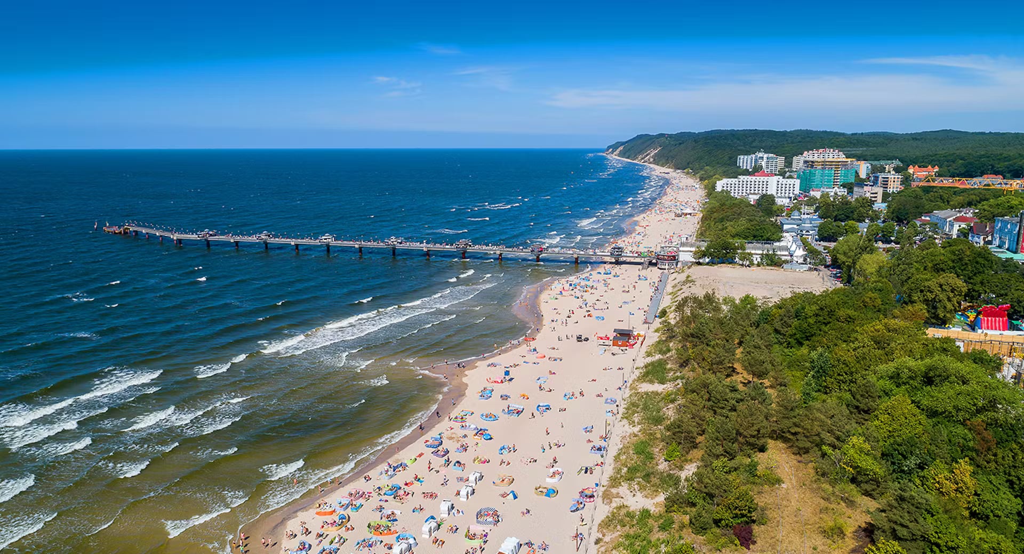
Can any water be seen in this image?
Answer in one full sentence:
Yes, water can be seen from above here.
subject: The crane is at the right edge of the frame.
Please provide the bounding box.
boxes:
[913,176,1024,198]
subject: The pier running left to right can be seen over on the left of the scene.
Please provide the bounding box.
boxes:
[114,224,657,263]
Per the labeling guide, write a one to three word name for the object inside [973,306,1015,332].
building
